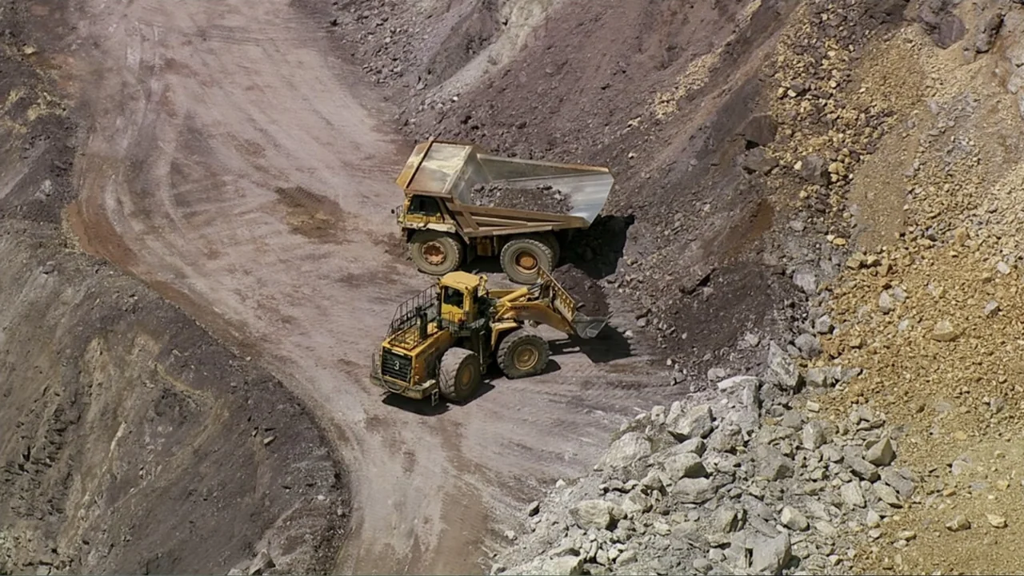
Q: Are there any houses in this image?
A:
No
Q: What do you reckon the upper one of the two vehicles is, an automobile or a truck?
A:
truck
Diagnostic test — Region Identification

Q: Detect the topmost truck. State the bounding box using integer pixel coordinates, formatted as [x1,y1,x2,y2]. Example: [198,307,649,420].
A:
[382,140,613,277]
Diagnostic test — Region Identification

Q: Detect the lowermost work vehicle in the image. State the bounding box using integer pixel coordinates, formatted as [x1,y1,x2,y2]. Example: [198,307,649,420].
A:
[367,260,612,414]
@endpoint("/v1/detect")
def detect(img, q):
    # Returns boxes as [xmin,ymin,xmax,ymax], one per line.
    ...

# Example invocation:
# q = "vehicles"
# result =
[367,260,612,414]
[382,140,613,277]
